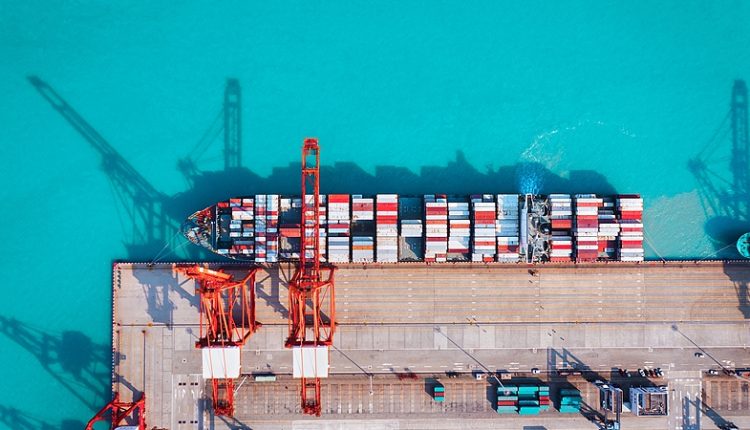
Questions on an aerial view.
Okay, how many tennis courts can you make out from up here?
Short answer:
0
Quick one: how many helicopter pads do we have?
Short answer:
none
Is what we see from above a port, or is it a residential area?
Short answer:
port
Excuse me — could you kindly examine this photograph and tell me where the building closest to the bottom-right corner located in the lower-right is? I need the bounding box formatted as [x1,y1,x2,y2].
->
[630,381,669,415]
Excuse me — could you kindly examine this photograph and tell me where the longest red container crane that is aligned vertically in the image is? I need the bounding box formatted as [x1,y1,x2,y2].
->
[286,136,343,416]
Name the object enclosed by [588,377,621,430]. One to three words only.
container crane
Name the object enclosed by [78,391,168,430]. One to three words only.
container crane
